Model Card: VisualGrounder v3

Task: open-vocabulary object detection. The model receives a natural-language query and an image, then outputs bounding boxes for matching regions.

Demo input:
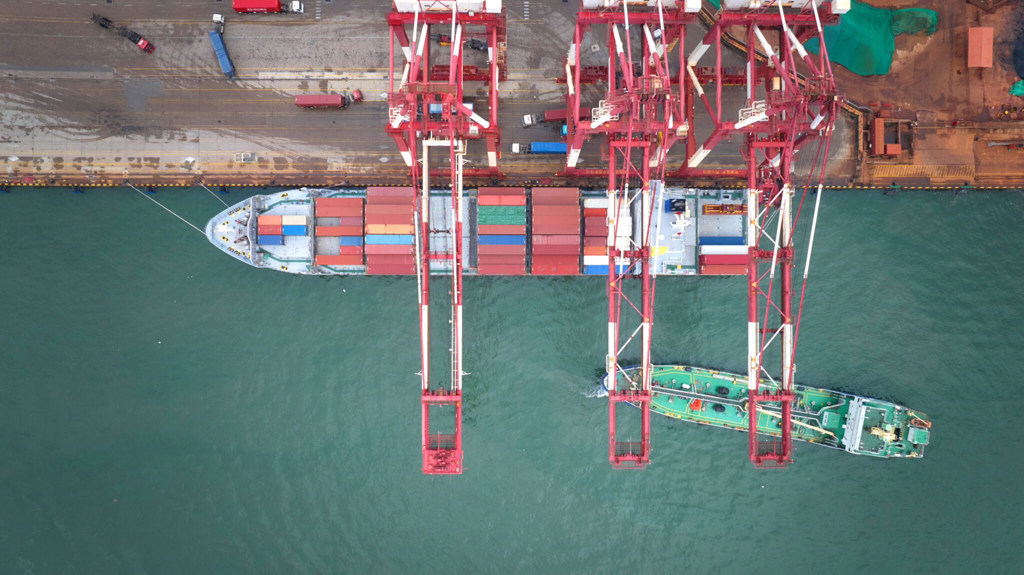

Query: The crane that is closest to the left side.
[379,0,514,478]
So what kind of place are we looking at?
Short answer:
port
